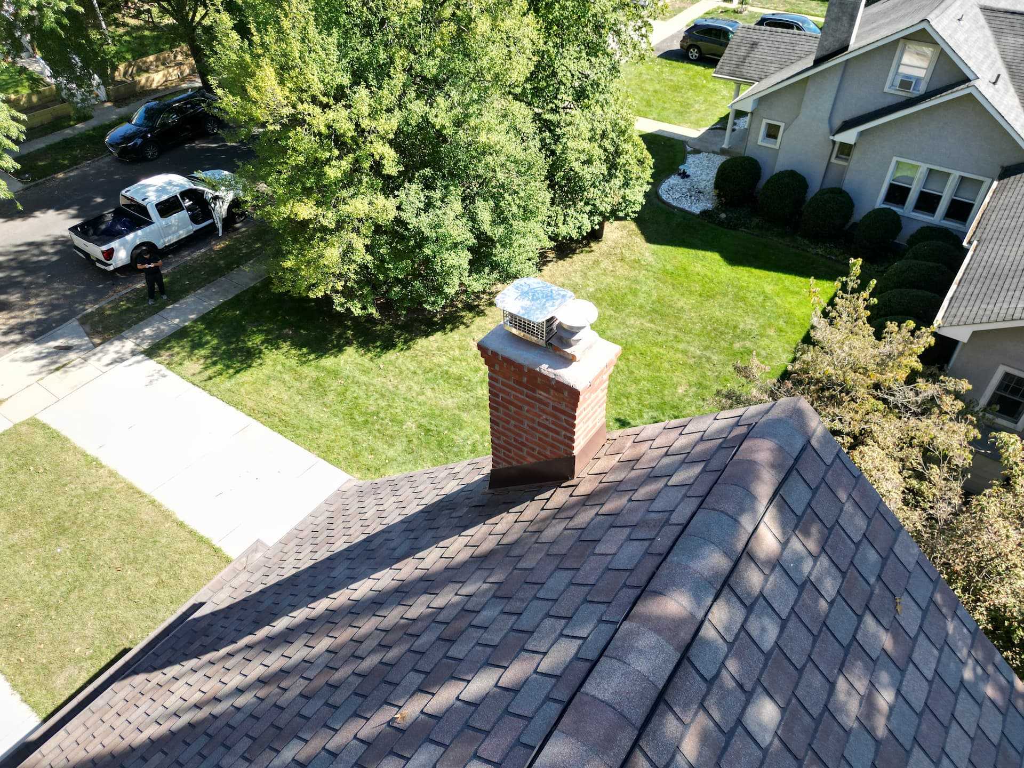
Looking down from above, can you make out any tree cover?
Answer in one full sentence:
Yes, the picture does contain tree cover.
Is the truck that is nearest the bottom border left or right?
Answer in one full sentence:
It is on the left.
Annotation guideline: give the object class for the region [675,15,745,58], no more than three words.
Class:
car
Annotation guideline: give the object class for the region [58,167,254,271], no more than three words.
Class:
truck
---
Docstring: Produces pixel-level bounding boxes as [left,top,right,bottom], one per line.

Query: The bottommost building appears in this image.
[0,278,1024,768]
